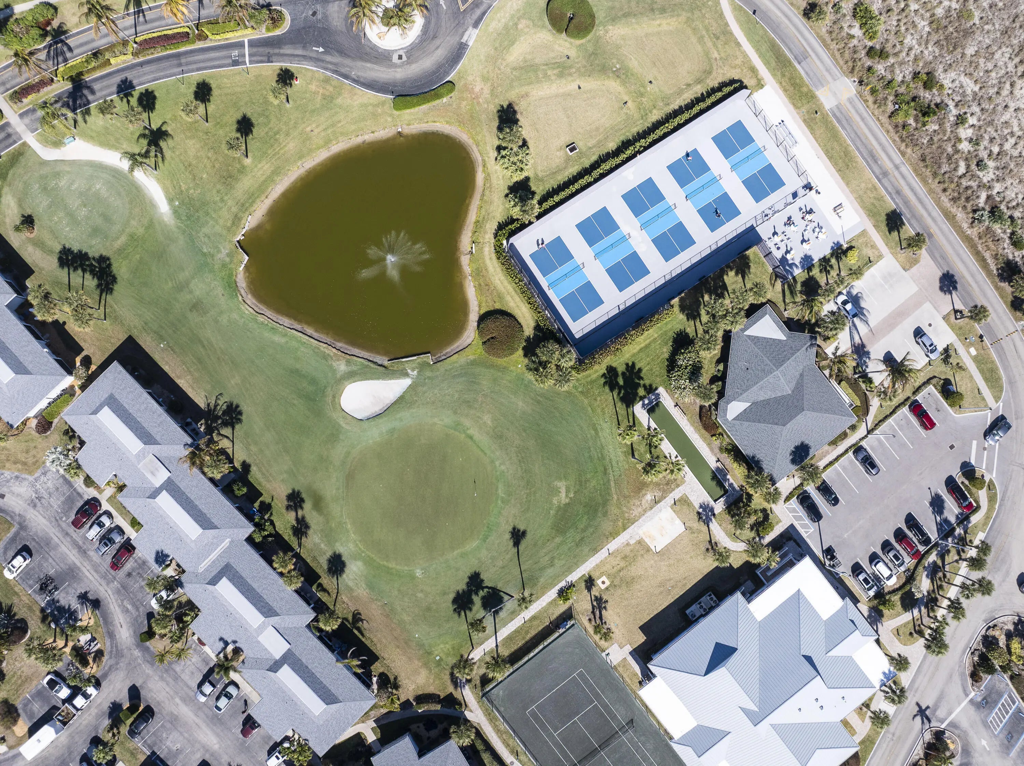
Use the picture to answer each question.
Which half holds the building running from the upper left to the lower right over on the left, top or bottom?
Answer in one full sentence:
Seen from above, the building running from the upper left to the lower right over on the left lies in the bottom half of the view.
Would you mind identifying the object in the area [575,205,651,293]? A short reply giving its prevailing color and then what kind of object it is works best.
blue sports court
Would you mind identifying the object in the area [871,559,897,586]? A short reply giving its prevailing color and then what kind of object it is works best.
white car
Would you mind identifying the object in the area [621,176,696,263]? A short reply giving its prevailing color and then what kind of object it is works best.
blue sports court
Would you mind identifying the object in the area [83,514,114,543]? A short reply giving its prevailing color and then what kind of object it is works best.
white car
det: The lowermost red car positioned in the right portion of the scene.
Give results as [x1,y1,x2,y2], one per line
[896,533,922,561]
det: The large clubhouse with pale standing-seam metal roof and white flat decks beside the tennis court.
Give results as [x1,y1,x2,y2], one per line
[638,555,898,766]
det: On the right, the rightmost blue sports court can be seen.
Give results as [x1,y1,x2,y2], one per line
[711,118,786,204]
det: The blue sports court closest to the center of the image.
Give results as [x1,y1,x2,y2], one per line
[529,235,604,323]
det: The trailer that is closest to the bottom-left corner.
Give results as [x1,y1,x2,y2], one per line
[19,714,74,761]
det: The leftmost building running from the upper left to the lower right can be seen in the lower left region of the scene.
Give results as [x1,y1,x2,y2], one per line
[62,361,385,754]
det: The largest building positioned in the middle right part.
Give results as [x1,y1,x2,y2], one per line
[716,304,858,487]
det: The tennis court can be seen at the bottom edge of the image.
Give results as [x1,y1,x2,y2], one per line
[485,624,685,766]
